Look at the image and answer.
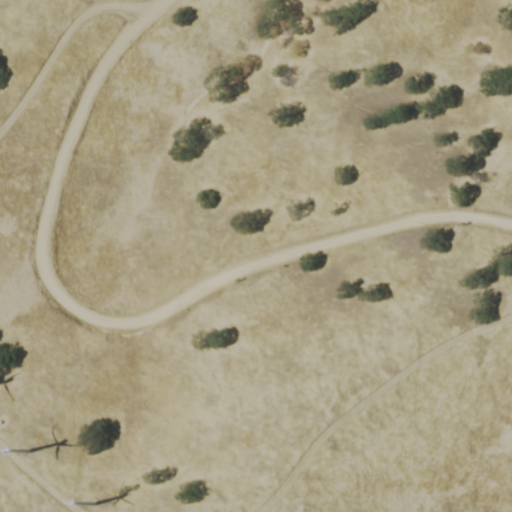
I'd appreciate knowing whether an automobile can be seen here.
No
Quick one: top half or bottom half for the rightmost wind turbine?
bottom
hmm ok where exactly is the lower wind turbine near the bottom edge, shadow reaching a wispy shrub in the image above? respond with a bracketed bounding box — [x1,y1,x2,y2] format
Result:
[62,489,99,512]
